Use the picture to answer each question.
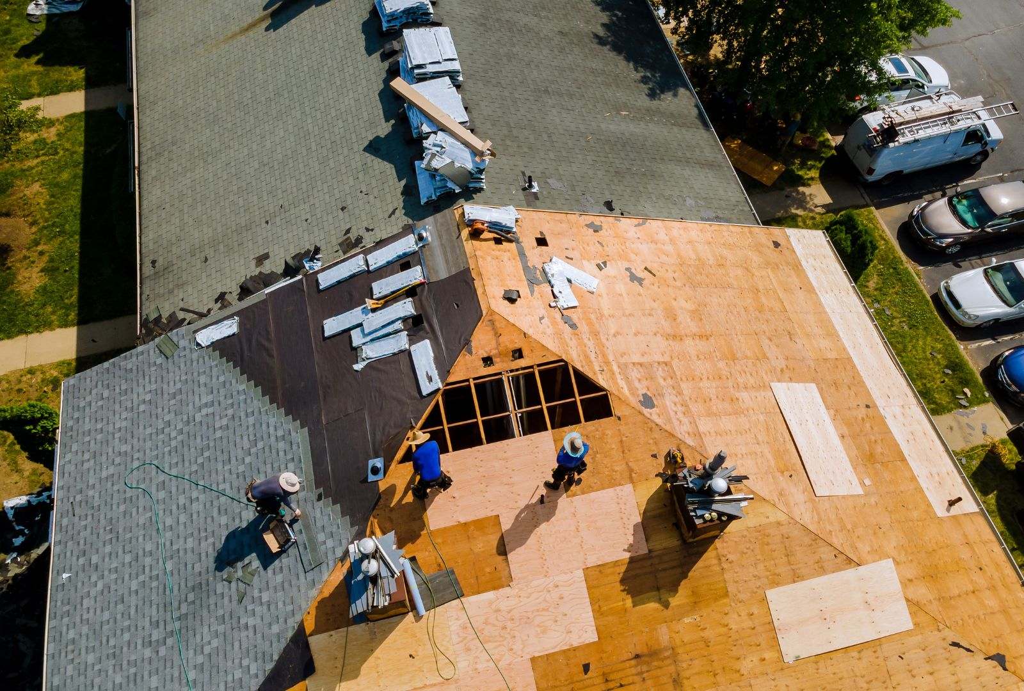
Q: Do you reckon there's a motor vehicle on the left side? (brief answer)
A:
No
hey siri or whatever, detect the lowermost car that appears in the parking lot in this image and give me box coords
[997,346,1024,408]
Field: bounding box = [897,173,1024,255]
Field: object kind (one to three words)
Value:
car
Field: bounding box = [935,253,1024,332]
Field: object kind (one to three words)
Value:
car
